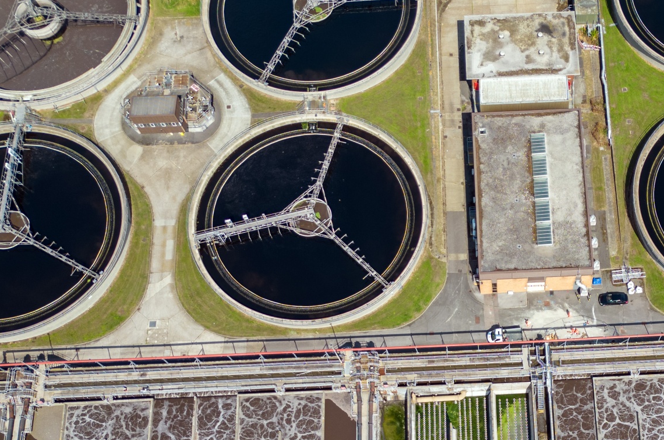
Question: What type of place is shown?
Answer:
industrial area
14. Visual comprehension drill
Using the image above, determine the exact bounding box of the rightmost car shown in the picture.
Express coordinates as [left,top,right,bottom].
[599,291,629,306]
